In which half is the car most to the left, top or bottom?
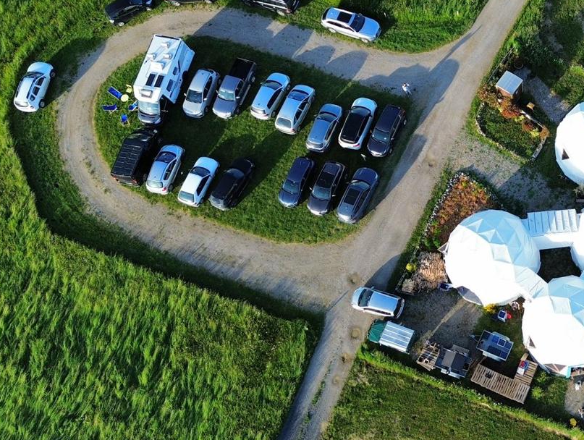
top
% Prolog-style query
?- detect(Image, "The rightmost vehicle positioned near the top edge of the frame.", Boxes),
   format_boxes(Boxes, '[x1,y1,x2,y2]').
[319,2,383,43]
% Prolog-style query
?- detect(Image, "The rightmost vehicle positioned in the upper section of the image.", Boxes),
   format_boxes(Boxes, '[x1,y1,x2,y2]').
[368,104,405,157]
